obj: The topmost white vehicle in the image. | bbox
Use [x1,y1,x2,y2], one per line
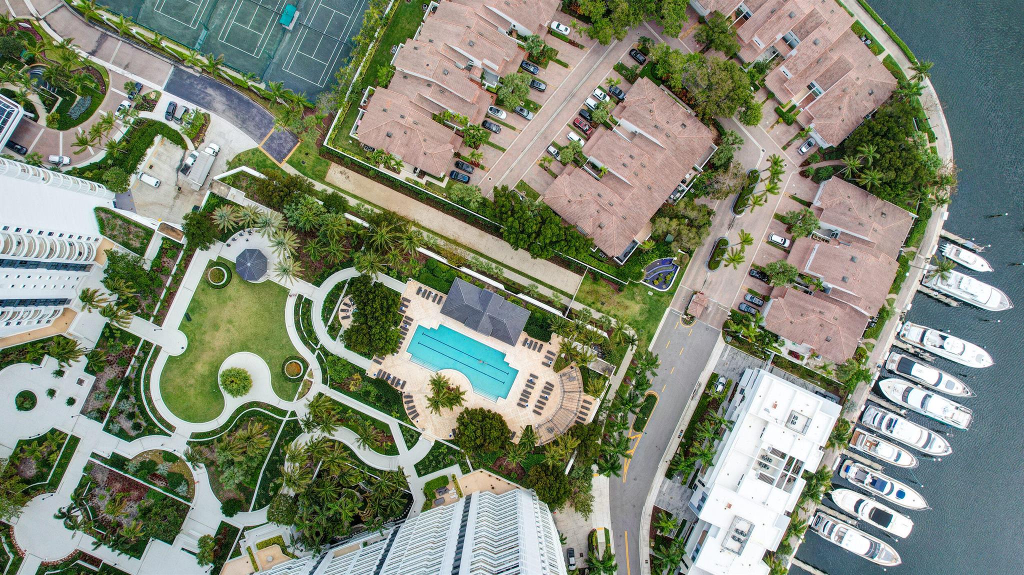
[550,21,571,36]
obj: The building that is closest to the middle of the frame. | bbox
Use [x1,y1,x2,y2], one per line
[440,277,531,347]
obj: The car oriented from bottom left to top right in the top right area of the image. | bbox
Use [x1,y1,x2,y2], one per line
[798,140,814,156]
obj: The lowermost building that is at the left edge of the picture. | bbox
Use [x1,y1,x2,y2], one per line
[0,159,102,338]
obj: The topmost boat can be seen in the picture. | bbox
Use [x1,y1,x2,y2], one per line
[940,243,998,271]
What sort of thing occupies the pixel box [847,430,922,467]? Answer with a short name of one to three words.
boat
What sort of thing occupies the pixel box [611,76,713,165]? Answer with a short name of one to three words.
house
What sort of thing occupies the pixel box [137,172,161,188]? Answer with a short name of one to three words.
vehicle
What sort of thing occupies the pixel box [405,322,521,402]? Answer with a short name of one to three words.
swimming pool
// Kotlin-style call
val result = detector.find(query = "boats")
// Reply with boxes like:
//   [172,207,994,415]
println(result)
[807,512,907,566]
[882,351,979,398]
[878,380,975,433]
[829,489,912,539]
[895,318,999,366]
[916,269,1018,310]
[856,407,957,454]
[847,430,922,467]
[940,243,998,271]
[835,458,934,511]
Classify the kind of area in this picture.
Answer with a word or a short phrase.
residential area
